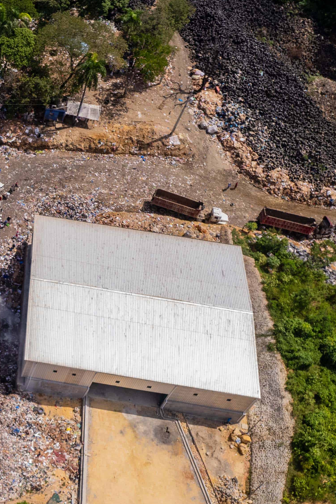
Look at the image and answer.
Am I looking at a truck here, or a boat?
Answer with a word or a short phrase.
truck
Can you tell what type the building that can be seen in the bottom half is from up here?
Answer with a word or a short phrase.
warehouse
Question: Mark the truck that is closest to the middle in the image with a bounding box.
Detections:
[150,188,232,225]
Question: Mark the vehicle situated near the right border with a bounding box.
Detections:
[258,206,336,237]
